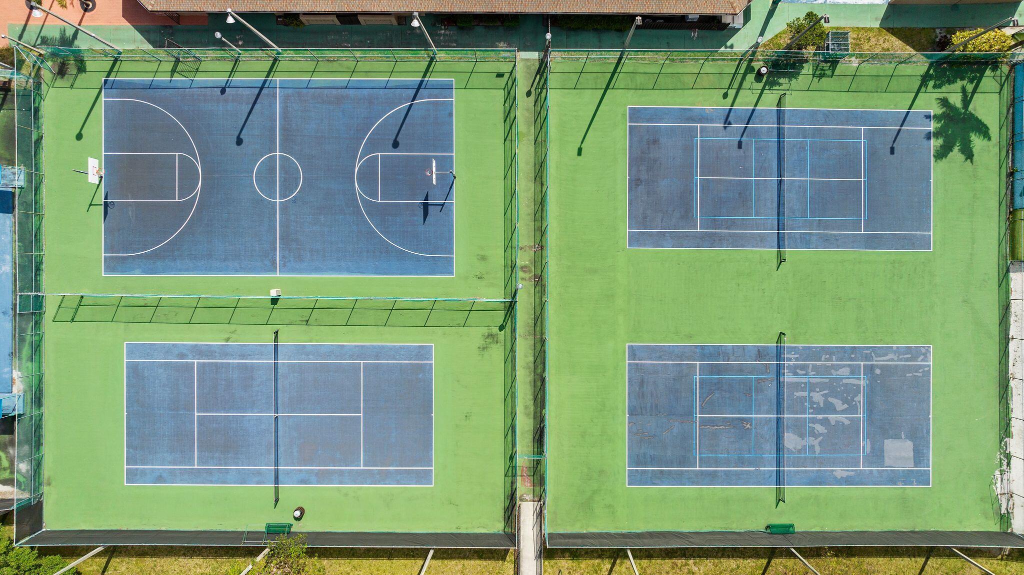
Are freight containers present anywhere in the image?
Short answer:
No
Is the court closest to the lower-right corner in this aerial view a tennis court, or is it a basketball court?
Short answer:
tennis court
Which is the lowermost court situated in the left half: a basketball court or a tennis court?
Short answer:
tennis court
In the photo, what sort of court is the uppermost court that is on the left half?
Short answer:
basketball court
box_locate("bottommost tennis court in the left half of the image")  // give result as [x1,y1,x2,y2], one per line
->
[124,342,434,486]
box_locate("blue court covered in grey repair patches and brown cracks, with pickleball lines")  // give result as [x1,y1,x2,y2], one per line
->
[627,344,932,487]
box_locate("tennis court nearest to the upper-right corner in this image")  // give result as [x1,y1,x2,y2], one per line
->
[627,106,933,251]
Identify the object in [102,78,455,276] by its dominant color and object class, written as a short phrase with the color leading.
blue basketball court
